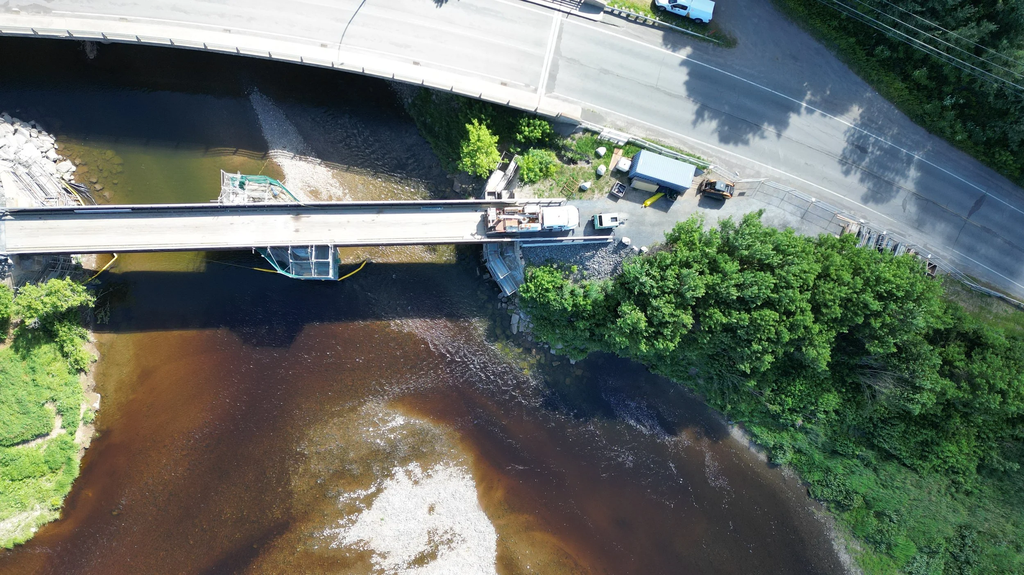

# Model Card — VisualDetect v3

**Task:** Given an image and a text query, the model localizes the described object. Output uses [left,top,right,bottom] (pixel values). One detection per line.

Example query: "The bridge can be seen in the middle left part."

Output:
[0,195,525,258]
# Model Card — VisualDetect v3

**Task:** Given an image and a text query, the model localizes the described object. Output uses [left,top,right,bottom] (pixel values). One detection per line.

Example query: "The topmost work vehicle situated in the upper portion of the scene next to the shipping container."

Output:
[695,177,736,204]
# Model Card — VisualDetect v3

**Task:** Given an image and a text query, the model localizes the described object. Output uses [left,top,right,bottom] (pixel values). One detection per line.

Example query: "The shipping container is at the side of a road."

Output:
[630,149,705,191]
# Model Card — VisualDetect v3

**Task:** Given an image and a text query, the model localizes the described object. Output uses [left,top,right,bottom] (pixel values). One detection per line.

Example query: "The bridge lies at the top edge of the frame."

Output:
[0,0,607,127]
